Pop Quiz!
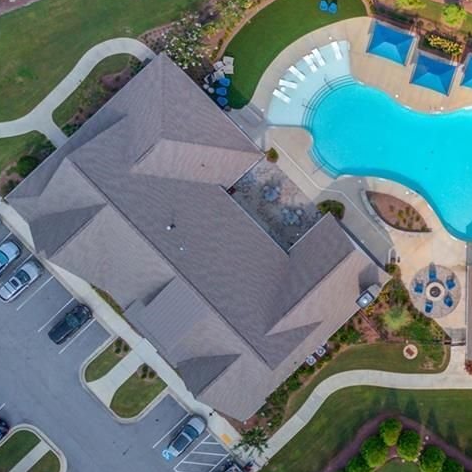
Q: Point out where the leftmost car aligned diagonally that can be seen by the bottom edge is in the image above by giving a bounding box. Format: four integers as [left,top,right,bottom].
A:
[163,414,207,458]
